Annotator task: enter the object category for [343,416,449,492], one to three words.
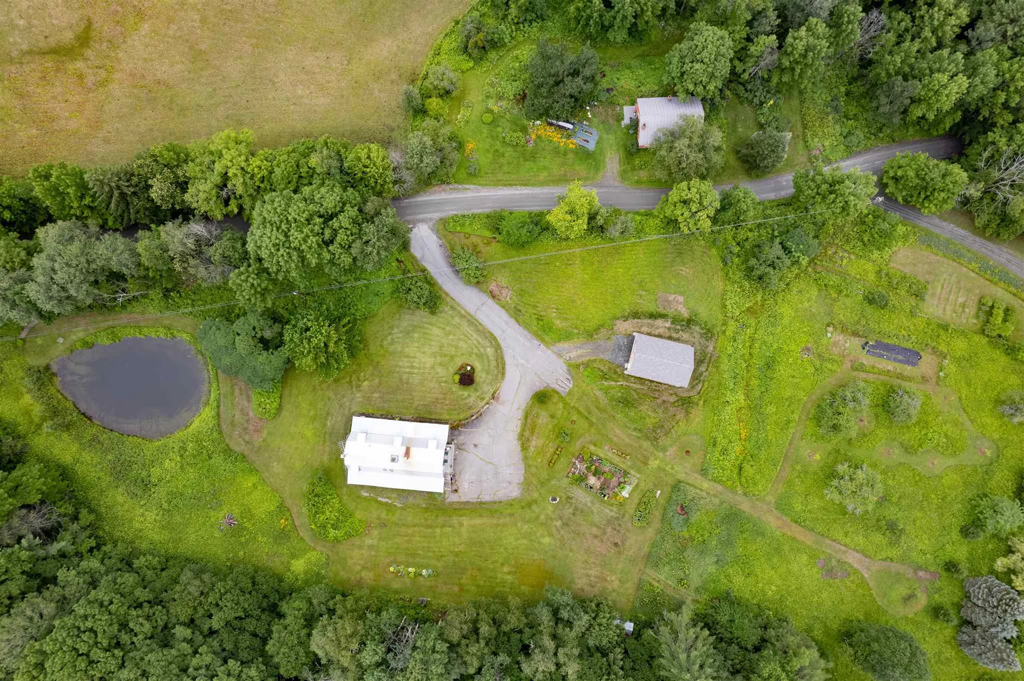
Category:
house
